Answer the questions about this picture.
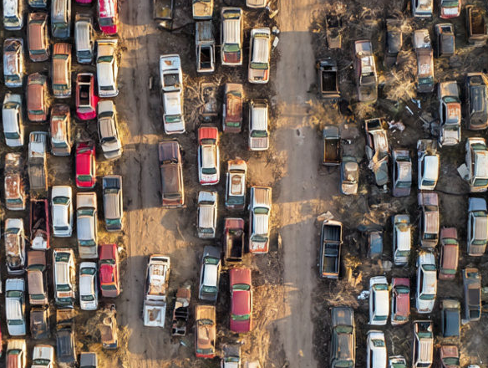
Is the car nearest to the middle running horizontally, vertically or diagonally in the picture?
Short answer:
vertically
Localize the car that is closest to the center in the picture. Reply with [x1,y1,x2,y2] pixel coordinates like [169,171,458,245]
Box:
[226,160,247,210]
